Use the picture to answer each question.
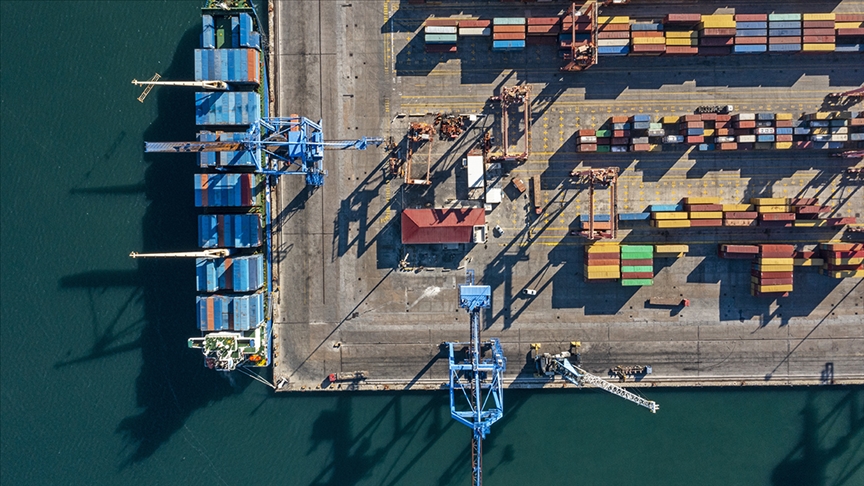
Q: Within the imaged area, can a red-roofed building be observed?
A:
Yes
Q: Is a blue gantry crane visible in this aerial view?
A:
Yes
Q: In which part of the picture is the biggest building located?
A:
center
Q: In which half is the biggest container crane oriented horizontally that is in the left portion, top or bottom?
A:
top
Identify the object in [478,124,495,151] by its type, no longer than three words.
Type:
work vehicle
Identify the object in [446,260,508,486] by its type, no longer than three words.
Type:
container crane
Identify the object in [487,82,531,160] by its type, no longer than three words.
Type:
container crane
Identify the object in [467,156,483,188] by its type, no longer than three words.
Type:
shed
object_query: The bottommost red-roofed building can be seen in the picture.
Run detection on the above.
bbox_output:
[402,208,489,243]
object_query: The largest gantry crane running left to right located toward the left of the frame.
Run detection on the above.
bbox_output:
[146,113,386,185]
